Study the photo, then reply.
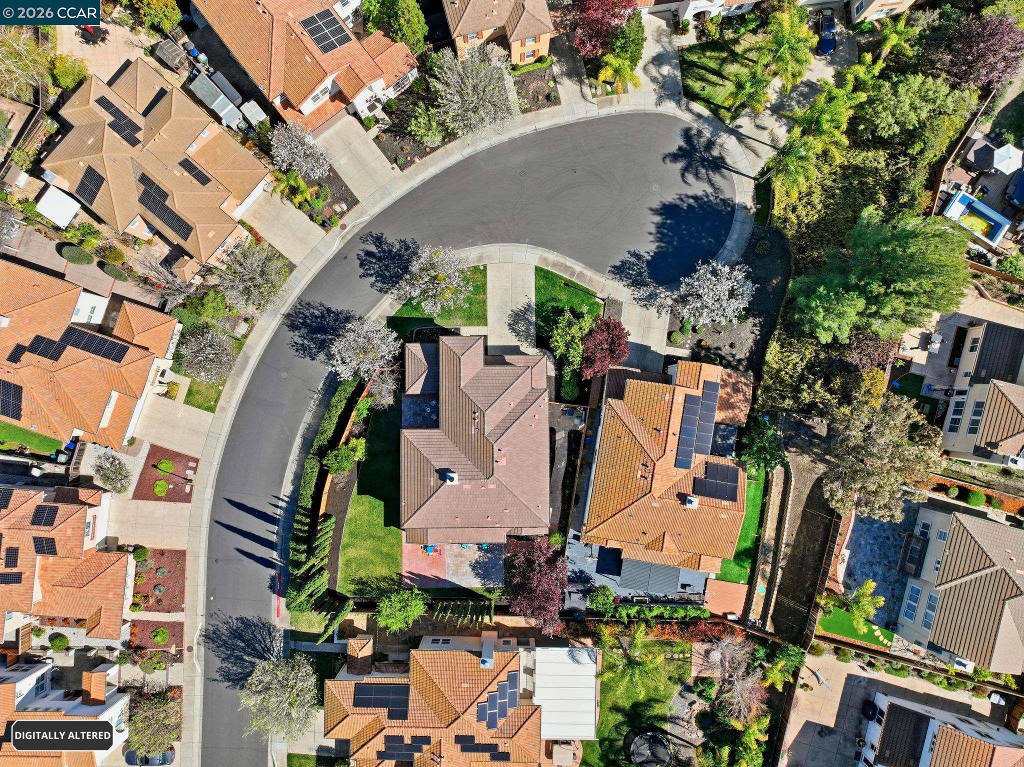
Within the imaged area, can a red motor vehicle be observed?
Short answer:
No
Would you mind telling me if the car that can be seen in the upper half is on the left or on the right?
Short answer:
right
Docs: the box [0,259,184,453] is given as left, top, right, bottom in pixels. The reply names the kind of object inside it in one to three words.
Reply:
house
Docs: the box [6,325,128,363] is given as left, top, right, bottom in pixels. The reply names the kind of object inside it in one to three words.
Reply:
solar array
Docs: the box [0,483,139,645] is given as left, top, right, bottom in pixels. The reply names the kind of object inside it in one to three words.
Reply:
house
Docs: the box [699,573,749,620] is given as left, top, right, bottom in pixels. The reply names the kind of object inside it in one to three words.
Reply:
gazebo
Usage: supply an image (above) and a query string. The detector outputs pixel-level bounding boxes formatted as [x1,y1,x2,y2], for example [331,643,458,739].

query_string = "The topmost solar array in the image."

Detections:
[300,7,352,53]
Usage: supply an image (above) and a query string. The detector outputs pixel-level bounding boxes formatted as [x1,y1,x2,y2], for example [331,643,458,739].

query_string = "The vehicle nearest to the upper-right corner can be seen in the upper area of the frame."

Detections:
[815,7,840,57]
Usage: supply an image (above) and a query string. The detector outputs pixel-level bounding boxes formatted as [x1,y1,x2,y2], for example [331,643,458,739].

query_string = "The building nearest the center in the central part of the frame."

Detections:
[400,334,551,544]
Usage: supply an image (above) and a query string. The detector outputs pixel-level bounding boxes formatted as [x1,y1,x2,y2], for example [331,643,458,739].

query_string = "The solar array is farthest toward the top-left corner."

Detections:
[94,94,142,146]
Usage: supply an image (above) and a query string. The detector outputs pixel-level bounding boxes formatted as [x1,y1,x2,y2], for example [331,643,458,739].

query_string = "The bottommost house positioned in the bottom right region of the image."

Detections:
[856,692,1024,767]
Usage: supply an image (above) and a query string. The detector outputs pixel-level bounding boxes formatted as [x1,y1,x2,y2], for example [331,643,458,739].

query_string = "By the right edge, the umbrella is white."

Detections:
[986,145,1019,176]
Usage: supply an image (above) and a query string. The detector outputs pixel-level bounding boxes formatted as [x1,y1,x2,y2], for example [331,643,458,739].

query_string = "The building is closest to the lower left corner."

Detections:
[0,659,131,767]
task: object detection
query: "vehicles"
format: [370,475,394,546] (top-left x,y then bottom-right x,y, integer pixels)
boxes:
[815,7,840,57]
[127,743,175,767]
